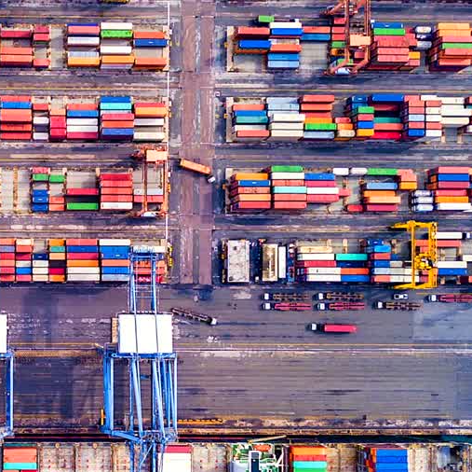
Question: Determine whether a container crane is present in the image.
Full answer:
Yes, looking at the shot, I can spot a container crane.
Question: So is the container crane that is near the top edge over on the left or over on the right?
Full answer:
The container crane that is near the top edge sits on the right side.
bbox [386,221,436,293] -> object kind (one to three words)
container crane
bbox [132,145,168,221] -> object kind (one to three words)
container crane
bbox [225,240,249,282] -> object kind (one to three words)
building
